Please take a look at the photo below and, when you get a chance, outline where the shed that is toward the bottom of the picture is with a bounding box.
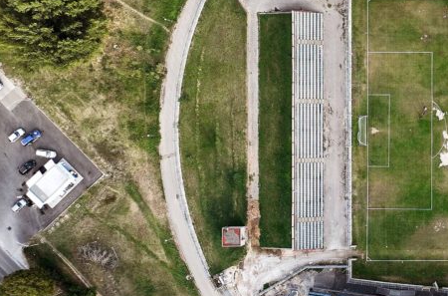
[221,225,246,246]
